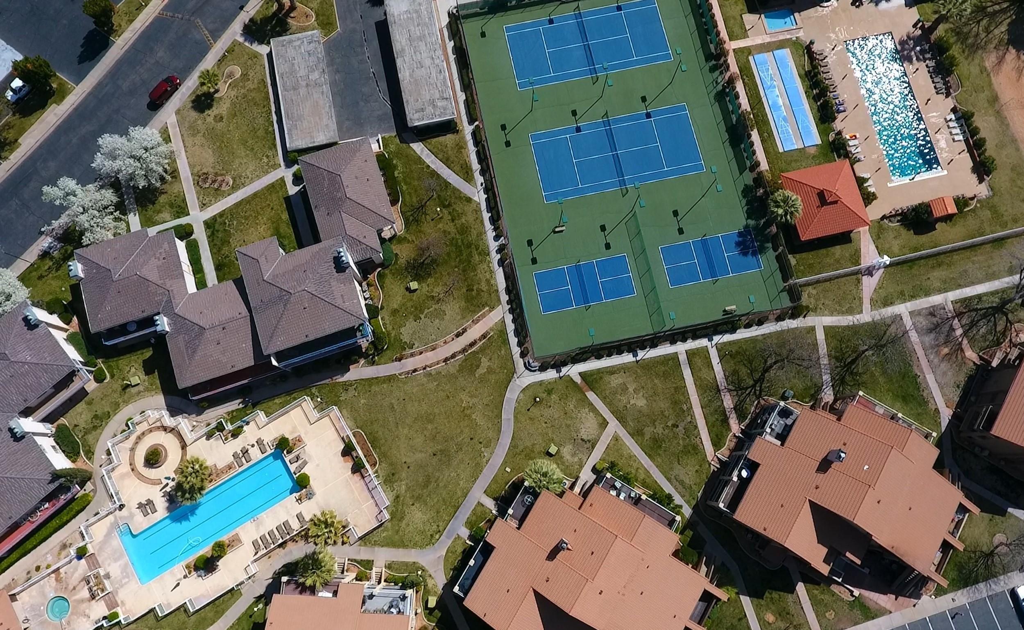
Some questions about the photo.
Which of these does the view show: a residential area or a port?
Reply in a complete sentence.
The area seen from above is a residential area.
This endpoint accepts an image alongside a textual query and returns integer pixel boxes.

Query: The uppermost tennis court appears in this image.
[503,0,673,90]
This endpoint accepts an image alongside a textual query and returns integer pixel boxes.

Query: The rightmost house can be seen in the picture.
[954,322,1024,467]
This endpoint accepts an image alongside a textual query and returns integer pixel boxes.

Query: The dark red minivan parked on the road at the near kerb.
[149,72,181,103]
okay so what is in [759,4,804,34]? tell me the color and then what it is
blue swimming pool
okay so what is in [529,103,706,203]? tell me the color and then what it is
blue tennis court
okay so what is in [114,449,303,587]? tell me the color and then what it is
blue swimming pool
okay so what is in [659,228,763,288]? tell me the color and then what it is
blue sports court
